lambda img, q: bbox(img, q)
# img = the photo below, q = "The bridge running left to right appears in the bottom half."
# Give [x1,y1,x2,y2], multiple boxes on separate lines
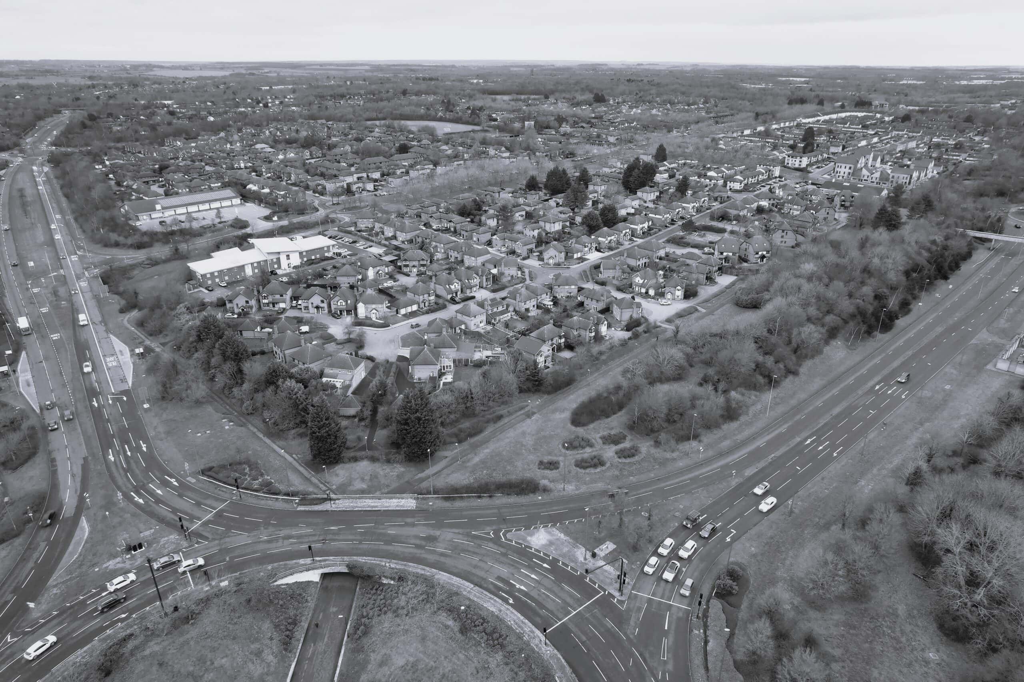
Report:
[271,570,399,591]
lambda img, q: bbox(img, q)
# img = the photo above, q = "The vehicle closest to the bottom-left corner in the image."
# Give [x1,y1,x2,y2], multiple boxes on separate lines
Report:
[20,634,60,661]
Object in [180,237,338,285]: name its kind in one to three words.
building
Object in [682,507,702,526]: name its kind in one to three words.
car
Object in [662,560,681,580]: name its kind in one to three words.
car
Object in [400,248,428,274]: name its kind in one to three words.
house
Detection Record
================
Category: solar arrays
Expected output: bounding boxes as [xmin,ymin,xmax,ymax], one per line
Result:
[163,192,234,207]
